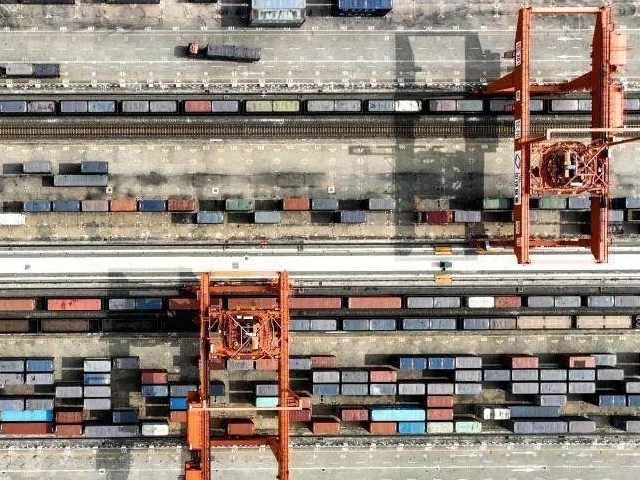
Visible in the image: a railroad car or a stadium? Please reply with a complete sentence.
Visible in the photo is a railroad car.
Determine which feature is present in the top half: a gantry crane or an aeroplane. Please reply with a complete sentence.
There is a gantry crane in the top half.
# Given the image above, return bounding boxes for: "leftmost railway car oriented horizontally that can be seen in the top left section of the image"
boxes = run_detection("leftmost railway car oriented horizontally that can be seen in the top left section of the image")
[0,100,59,117]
